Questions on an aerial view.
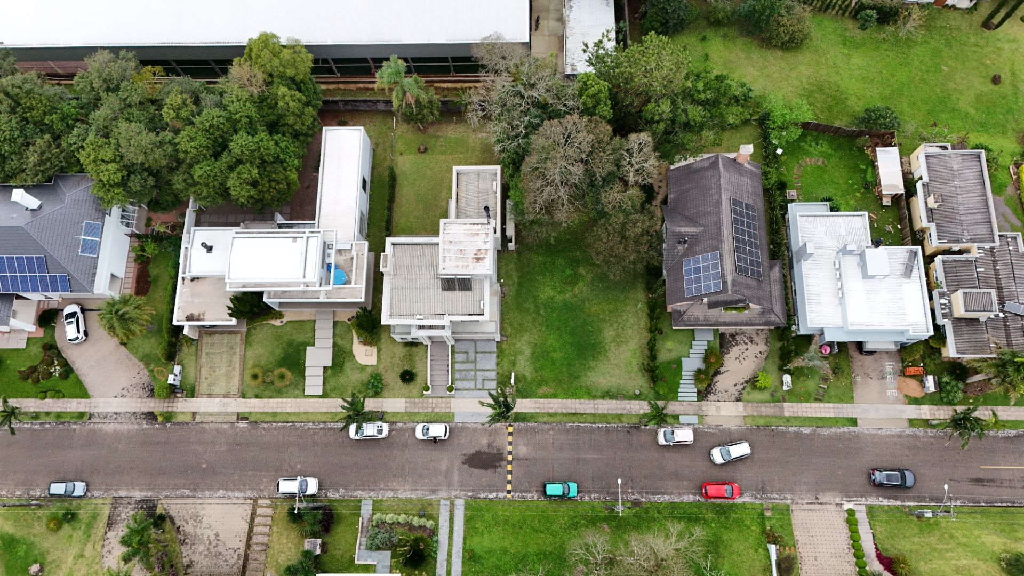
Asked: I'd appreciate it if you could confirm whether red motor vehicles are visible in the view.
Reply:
Yes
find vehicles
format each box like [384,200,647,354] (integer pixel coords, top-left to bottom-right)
[49,480,89,499]
[656,427,693,446]
[708,439,753,466]
[543,481,578,500]
[63,306,86,342]
[350,422,390,441]
[860,339,879,360]
[276,476,319,497]
[416,422,450,441]
[866,468,914,489]
[700,481,741,501]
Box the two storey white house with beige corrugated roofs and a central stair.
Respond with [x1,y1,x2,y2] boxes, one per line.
[379,166,503,345]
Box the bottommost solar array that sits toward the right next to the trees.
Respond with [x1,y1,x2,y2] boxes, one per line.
[682,251,723,297]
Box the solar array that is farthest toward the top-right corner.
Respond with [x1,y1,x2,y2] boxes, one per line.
[730,197,762,280]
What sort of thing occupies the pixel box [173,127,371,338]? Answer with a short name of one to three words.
house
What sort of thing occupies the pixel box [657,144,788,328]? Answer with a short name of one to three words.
house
